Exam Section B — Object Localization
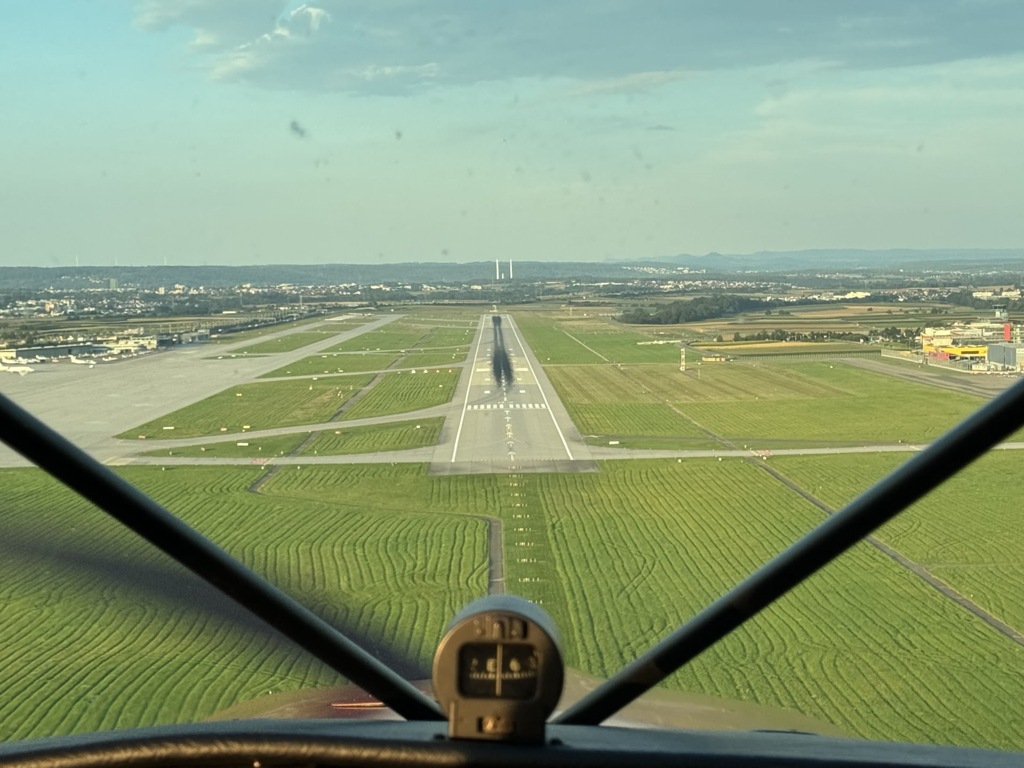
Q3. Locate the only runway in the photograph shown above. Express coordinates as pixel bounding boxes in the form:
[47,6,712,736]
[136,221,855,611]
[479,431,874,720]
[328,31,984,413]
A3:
[385,317,617,473]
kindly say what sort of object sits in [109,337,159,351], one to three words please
building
